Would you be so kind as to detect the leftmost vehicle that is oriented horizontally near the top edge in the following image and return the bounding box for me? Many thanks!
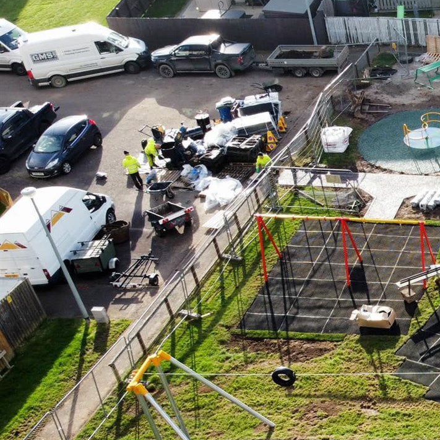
[14,19,152,88]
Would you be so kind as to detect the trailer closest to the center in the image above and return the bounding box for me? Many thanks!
[140,195,195,235]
